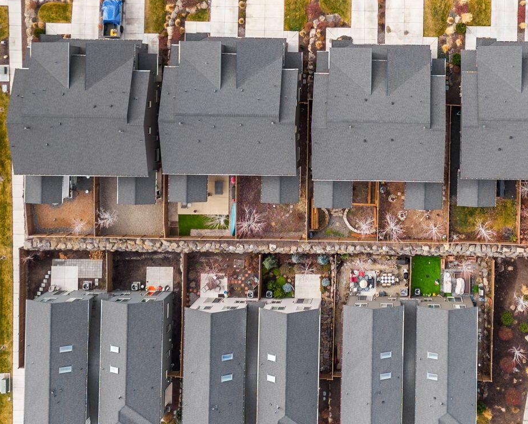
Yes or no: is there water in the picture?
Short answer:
No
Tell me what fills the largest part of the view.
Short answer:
buildings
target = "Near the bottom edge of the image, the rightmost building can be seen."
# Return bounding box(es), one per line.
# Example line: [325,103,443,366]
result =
[340,294,479,424]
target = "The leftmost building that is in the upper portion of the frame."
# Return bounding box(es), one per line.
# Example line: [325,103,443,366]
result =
[9,33,164,205]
